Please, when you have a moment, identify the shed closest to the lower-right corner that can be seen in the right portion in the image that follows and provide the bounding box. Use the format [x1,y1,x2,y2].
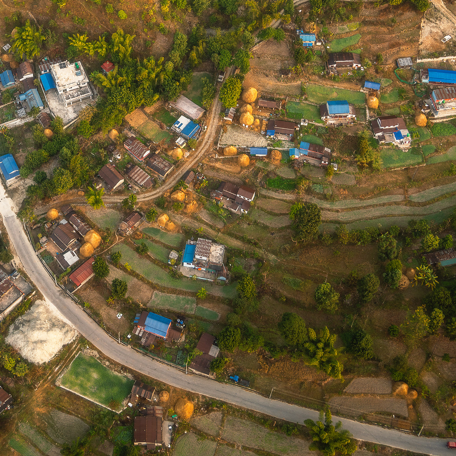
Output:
[421,247,456,268]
